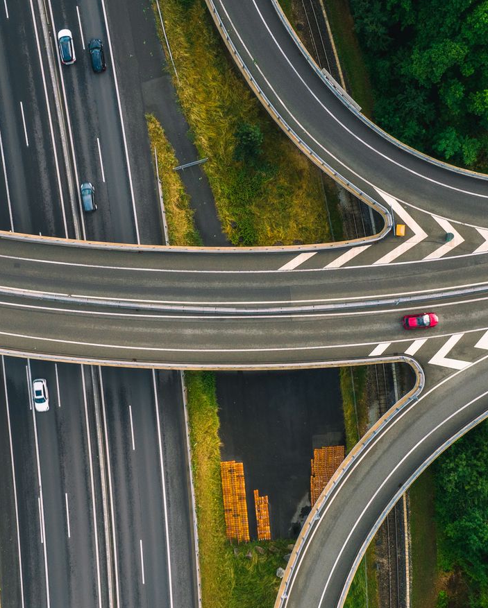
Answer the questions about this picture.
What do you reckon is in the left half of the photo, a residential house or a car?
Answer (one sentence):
It is a car that can be seen in the left half of the photo.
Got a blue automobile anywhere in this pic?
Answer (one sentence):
Yes, there is a blue automobile in the image.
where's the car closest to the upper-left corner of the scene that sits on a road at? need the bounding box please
[57,31,76,64]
